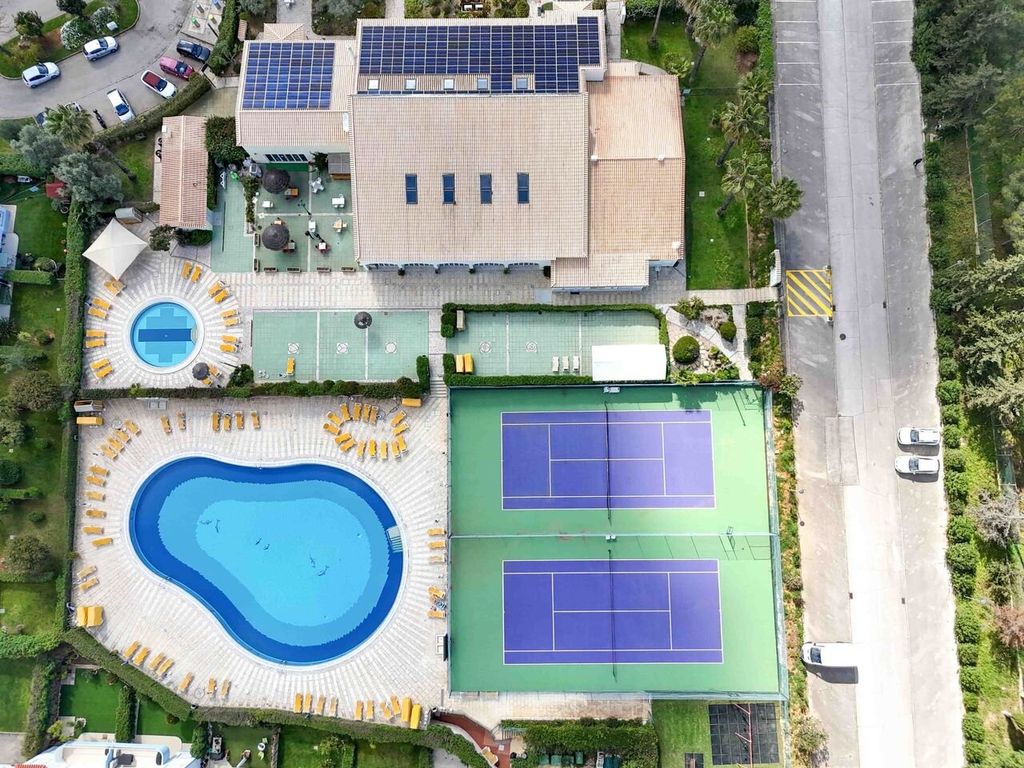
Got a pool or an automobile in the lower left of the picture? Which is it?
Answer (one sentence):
What appears in the lower left of the picture is a pool.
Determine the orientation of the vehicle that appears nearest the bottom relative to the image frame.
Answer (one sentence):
The vehicle that appears nearest the bottom runs from left to right in the image.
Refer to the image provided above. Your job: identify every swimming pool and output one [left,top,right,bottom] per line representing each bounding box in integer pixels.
[125,452,409,671]
[125,295,207,376]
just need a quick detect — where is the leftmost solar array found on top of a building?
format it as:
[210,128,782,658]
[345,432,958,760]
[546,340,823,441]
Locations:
[242,42,335,108]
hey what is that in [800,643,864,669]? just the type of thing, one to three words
vehicle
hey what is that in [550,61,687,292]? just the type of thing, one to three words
building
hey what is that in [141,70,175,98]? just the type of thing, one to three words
car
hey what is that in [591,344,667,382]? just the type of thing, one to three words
tent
